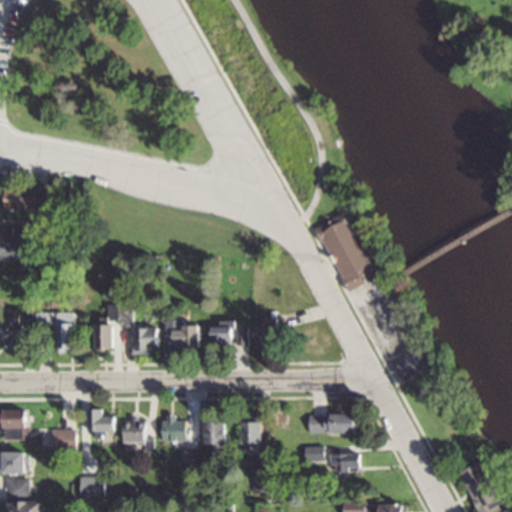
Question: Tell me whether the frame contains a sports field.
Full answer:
No, I can't see a single sports field in this photo.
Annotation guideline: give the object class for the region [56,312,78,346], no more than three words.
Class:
house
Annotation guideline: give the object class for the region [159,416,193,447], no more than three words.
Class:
house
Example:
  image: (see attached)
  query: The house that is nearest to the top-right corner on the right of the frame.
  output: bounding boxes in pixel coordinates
[322,213,373,288]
